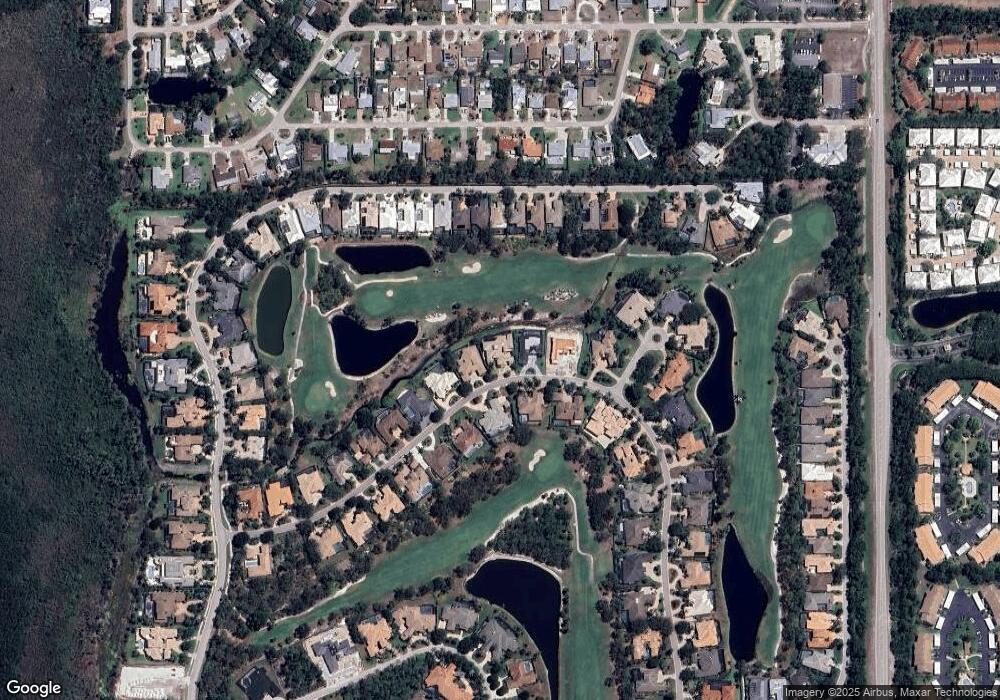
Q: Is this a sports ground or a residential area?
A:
residential area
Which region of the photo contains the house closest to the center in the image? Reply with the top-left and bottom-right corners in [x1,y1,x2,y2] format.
[483,332,517,367]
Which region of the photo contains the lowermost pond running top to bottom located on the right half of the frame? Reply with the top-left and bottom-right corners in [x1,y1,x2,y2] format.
[722,524,768,661]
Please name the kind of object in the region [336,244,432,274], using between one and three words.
pond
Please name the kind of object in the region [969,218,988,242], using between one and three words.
building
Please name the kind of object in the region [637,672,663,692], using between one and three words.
house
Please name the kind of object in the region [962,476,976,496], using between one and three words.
swimming pool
